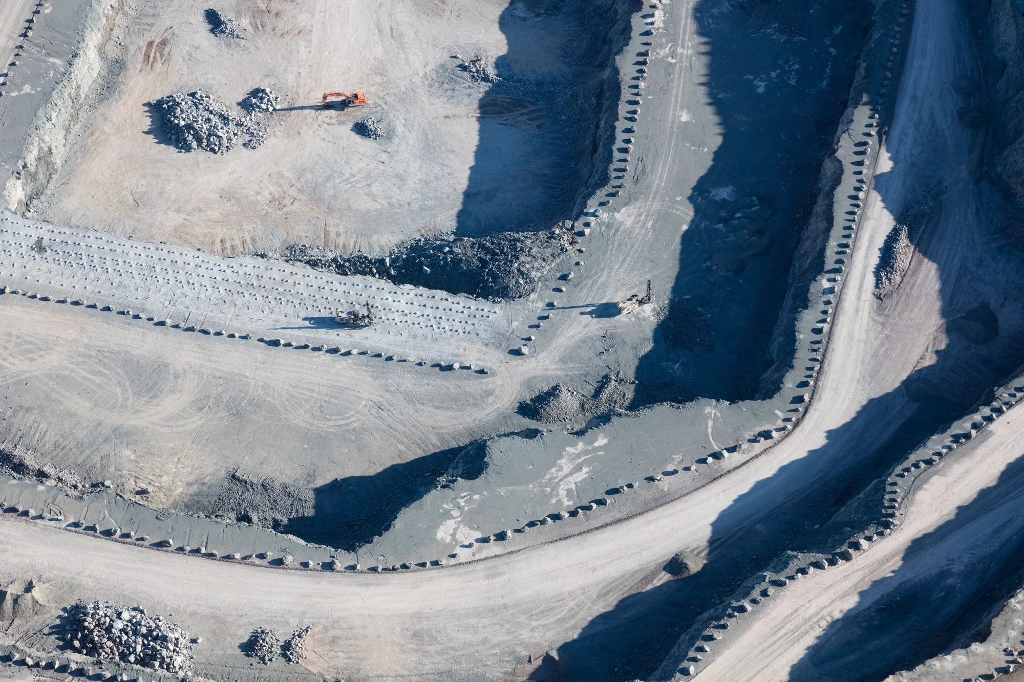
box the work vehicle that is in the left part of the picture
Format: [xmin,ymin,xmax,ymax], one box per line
[324,89,368,112]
